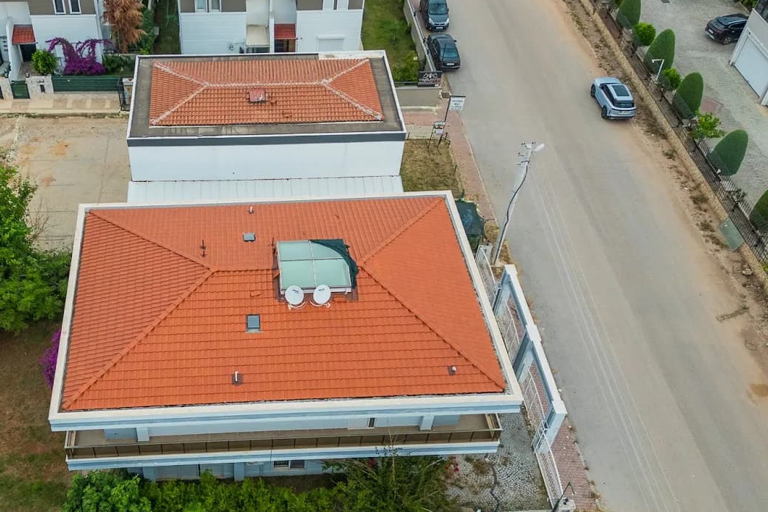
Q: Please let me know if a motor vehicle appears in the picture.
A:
Yes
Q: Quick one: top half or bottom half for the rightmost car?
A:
top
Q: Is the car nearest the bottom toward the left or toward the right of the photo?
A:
right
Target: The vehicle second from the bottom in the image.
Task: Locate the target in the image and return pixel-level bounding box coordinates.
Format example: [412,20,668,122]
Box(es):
[437,32,468,66]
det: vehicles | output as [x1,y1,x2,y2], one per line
[583,73,637,119]
[700,7,753,39]
[437,32,468,66]
[424,0,457,30]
